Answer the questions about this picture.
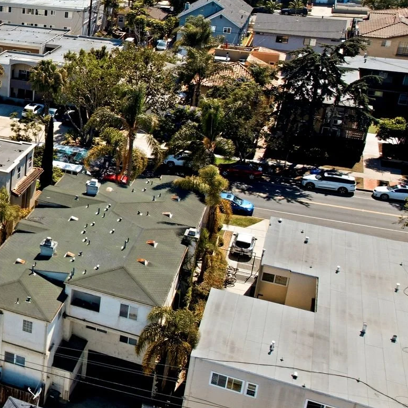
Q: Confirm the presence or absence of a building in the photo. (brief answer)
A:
Yes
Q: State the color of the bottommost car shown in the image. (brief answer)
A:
white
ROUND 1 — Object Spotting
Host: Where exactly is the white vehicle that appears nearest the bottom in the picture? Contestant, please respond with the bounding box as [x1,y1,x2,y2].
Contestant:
[230,228,257,254]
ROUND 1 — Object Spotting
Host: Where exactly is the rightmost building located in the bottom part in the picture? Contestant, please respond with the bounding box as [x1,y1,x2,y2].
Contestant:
[184,216,408,408]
